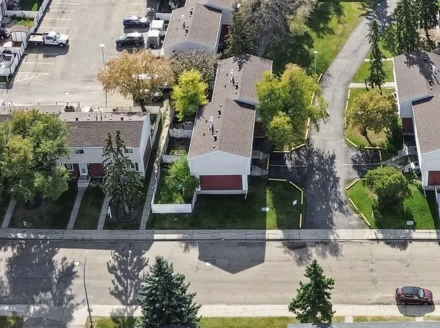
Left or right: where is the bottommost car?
right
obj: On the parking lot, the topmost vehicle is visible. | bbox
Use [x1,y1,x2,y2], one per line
[121,15,149,29]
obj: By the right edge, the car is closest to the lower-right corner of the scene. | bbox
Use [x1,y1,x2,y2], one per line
[393,286,437,308]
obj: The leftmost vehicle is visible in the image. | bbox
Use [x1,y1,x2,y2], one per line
[30,33,68,48]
